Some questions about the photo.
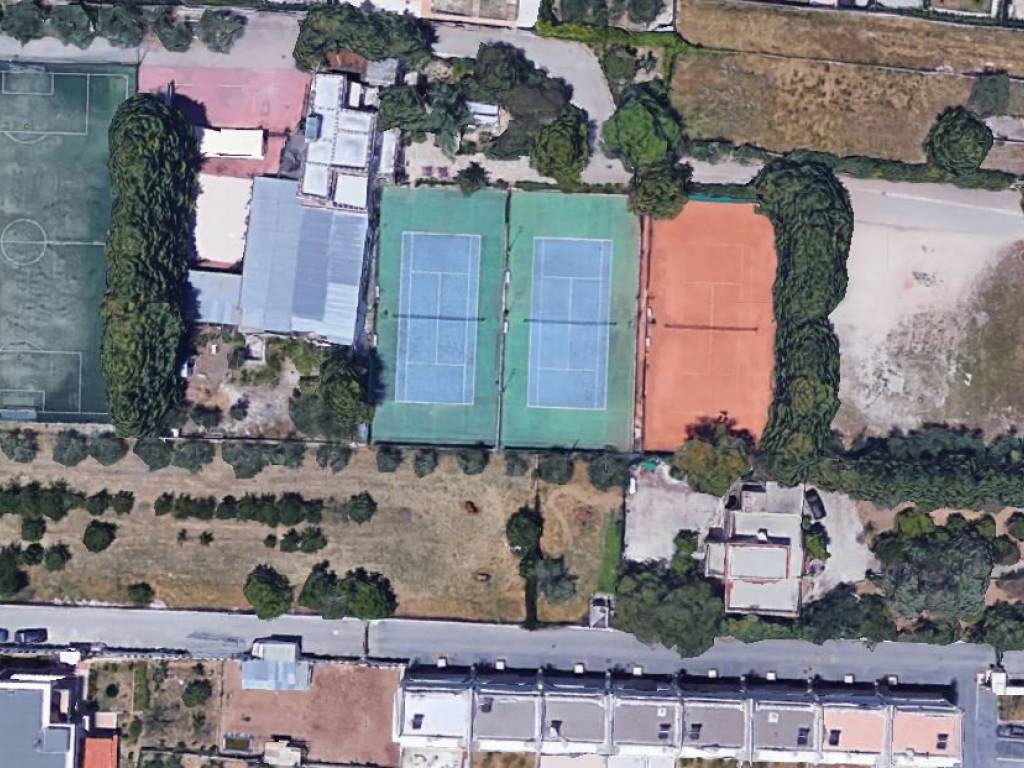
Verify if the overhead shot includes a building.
Yes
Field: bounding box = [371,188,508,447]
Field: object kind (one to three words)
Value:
tennis court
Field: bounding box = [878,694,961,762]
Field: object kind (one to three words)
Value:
house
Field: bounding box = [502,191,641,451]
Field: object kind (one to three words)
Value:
tennis court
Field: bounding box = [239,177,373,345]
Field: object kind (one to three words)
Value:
building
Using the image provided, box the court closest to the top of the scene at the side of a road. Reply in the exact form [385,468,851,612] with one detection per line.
[138,67,311,178]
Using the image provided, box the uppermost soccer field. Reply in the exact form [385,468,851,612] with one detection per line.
[0,63,135,416]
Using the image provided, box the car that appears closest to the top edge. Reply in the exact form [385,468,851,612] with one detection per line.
[807,487,825,520]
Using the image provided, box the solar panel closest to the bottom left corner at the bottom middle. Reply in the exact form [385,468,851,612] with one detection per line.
[412,714,425,731]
